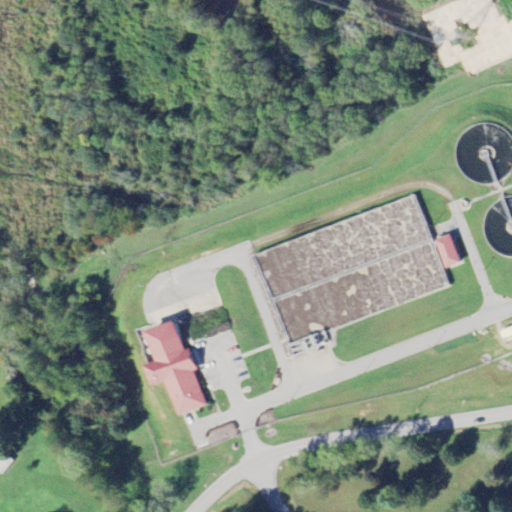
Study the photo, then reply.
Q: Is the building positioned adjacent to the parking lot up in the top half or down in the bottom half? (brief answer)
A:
bottom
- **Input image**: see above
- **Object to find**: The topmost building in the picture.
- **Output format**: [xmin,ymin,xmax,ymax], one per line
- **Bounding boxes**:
[436,234,460,266]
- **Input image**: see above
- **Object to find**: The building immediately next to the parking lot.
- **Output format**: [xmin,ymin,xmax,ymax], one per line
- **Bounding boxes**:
[141,322,208,416]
